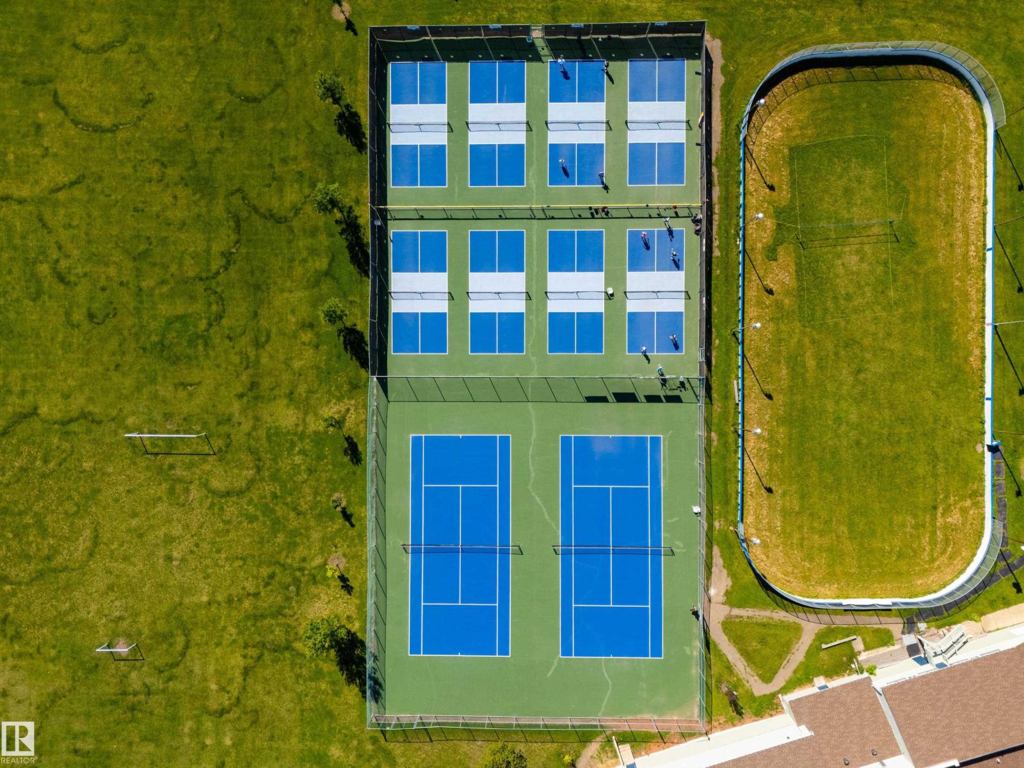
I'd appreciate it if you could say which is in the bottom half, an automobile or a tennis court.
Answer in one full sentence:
Looking in the bottom half, you will find a tennis court.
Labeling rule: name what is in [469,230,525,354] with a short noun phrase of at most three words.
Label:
sports court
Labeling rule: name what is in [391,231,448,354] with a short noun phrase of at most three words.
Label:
sports court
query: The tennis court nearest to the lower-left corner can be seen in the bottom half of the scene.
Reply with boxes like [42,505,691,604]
[409,435,511,656]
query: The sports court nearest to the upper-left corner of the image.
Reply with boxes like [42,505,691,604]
[391,62,447,187]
